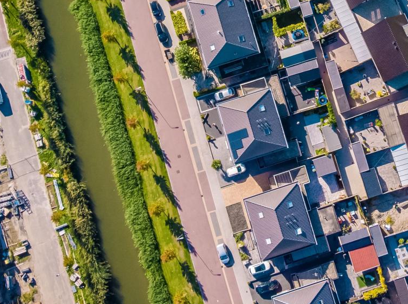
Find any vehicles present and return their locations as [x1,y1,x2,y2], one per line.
[225,163,247,177]
[214,88,236,101]
[153,20,169,44]
[0,83,5,106]
[247,260,272,276]
[148,0,164,20]
[215,241,232,266]
[255,279,280,295]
